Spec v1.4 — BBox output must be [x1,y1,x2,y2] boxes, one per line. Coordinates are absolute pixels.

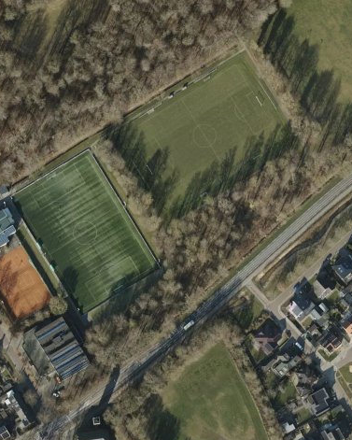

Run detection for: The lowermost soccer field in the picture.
[15,151,159,312]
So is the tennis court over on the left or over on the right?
left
